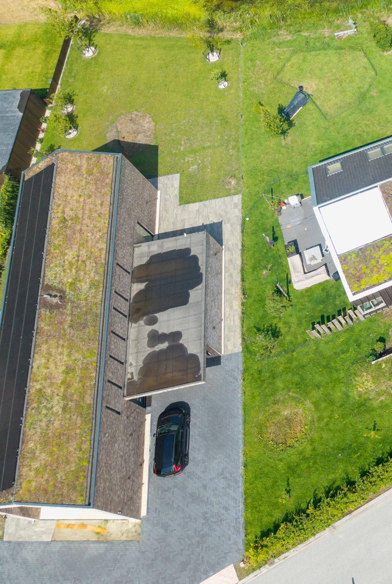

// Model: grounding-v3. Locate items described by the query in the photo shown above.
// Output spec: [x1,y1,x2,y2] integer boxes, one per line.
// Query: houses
[309,137,392,311]
[0,152,227,546]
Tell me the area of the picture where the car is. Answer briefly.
bottom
